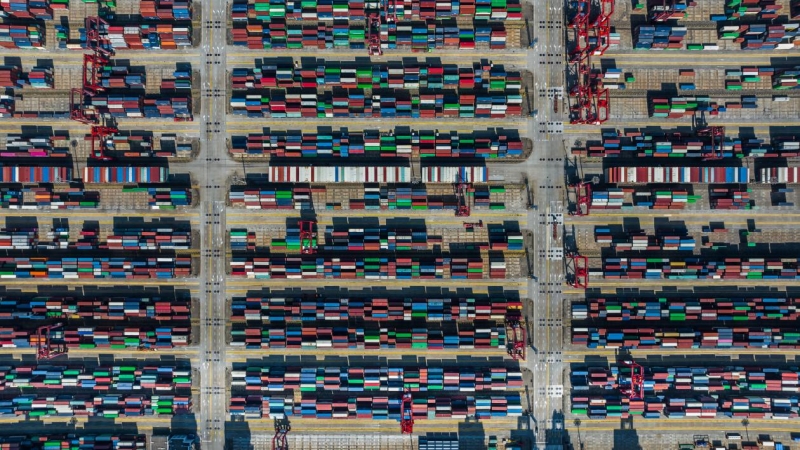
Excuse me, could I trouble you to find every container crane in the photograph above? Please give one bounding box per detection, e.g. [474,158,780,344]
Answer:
[83,52,112,91]
[566,183,590,216]
[453,183,471,216]
[693,124,723,160]
[617,359,644,398]
[567,52,591,91]
[91,124,120,160]
[648,0,676,23]
[383,0,398,23]
[299,220,319,255]
[588,14,611,55]
[567,14,591,55]
[86,14,116,55]
[367,14,384,55]
[37,323,70,361]
[566,0,590,23]
[568,86,591,124]
[502,323,522,361]
[271,428,291,450]
[399,392,415,433]
[565,255,588,289]
[585,86,609,124]
[70,86,100,124]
